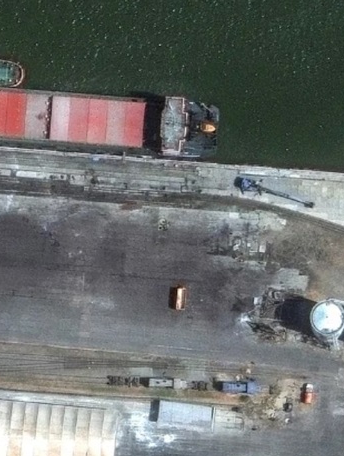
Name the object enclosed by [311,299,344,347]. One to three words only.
silo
